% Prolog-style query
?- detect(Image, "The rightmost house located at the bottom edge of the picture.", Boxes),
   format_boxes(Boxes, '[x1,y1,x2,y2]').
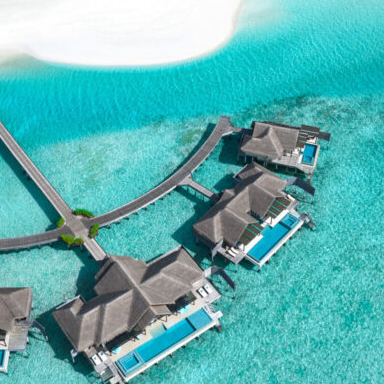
[54,244,236,384]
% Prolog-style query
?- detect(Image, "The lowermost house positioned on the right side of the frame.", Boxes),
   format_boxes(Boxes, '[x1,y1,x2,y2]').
[191,164,316,271]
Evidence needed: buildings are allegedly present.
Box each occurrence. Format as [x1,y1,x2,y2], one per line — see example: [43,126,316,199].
[191,164,316,271]
[0,286,51,358]
[54,244,236,384]
[241,120,330,183]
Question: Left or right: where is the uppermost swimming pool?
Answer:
right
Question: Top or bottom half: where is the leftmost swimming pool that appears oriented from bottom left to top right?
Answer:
bottom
